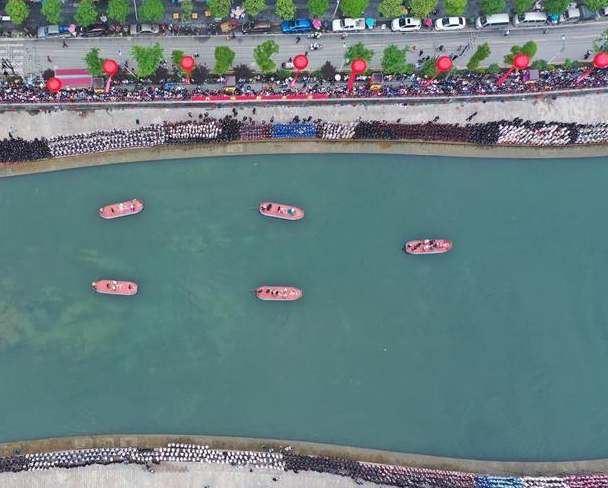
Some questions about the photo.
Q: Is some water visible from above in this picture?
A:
Yes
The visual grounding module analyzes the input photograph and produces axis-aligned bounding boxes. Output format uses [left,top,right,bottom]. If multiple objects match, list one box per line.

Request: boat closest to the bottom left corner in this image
[93,280,140,295]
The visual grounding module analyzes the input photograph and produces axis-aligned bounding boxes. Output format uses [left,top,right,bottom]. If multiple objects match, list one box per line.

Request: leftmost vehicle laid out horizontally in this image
[38,24,73,40]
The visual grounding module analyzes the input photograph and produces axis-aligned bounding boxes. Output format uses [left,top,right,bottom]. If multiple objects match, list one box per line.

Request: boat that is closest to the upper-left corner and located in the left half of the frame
[98,200,144,218]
